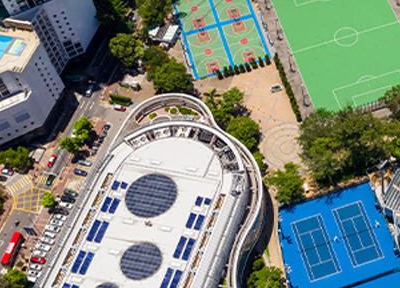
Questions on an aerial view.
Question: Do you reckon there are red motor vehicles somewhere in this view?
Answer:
Yes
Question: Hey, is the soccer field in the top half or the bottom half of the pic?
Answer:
top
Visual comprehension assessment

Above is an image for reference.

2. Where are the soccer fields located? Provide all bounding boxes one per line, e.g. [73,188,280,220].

[272,0,400,114]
